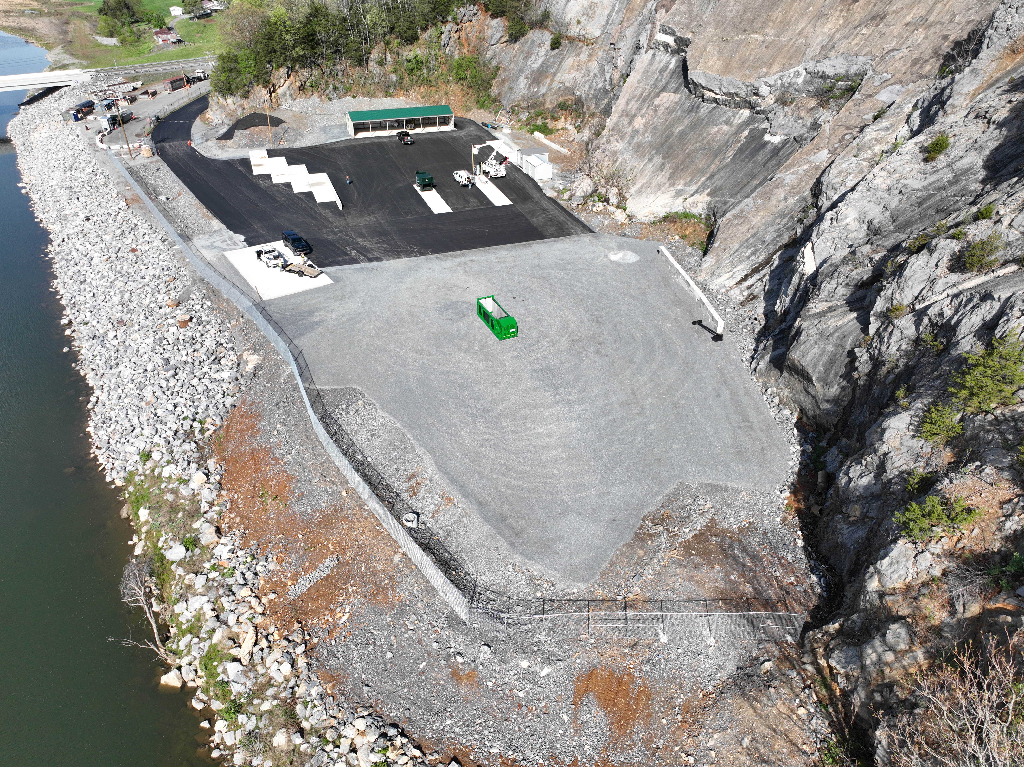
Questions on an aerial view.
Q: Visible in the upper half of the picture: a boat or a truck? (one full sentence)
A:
The one visible in the upper half of the picture is a truck.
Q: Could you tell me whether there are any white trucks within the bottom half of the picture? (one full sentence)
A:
No, I can find no white truck within the bottom half of the picture.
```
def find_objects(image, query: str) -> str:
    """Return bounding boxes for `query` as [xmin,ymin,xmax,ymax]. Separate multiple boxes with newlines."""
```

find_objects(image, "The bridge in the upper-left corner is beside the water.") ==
[0,69,90,96]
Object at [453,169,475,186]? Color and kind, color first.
white vehicle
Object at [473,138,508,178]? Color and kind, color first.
white truck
